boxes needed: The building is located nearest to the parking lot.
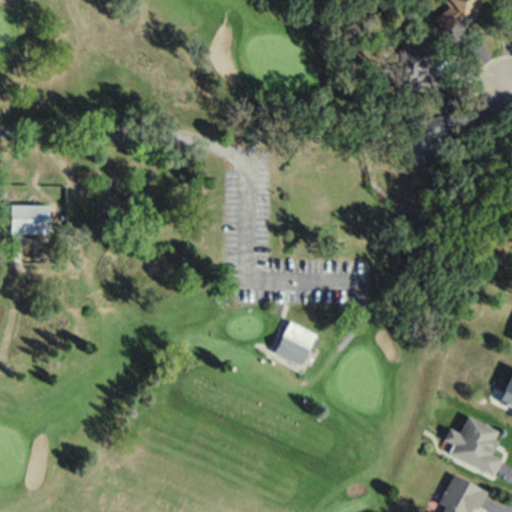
[274,320,320,367]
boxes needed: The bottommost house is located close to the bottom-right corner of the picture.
[436,476,488,512]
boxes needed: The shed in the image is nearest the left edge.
[10,205,50,235]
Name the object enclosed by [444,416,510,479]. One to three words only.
house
